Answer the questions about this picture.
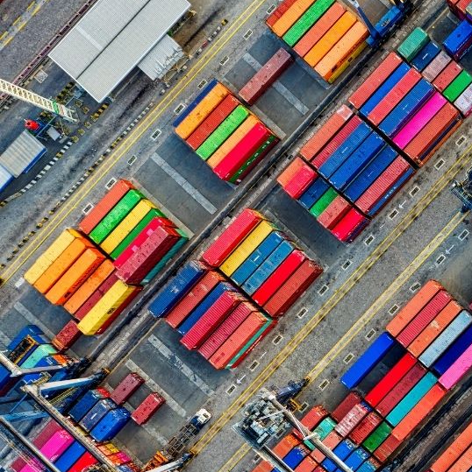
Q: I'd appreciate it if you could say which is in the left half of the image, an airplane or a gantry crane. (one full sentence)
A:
The feature located in the left half of the image is a gantry crane.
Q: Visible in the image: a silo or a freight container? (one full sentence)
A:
This aerial view contains a freight container.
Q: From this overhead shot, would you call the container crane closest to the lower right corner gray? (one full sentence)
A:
Yes, gray is the color of the container crane closest to the lower right corner.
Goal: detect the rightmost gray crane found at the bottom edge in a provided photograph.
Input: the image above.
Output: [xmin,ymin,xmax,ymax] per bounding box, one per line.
[225,374,401,472]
